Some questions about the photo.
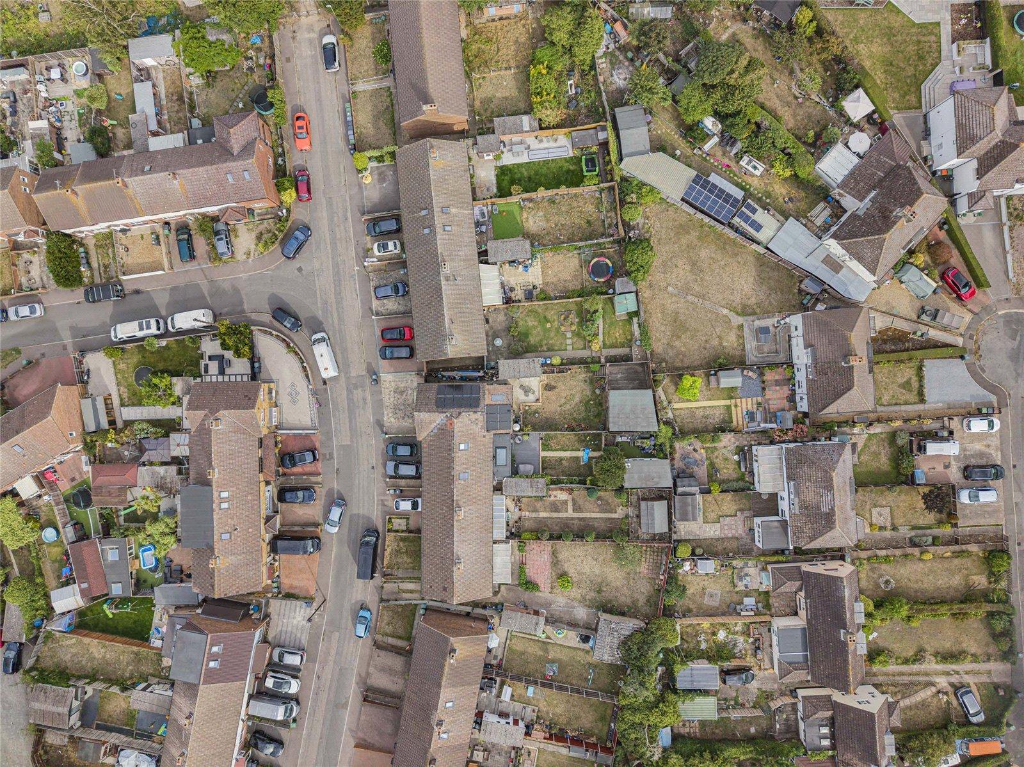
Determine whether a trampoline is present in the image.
Yes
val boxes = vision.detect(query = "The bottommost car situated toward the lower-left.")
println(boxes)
[245,730,286,757]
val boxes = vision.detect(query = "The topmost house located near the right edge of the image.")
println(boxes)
[931,86,1024,213]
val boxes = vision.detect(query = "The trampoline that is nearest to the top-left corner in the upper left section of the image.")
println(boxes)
[239,80,273,115]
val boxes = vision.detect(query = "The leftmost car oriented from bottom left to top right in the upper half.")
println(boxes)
[280,224,312,262]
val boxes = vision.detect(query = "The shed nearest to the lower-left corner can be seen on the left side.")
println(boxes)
[27,679,85,729]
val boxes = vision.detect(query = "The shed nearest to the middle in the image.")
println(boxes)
[499,358,541,379]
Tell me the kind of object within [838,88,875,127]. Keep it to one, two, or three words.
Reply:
gazebo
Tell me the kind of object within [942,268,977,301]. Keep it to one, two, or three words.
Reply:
car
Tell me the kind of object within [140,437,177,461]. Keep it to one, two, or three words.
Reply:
gazebo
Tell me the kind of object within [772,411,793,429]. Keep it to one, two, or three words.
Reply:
shed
